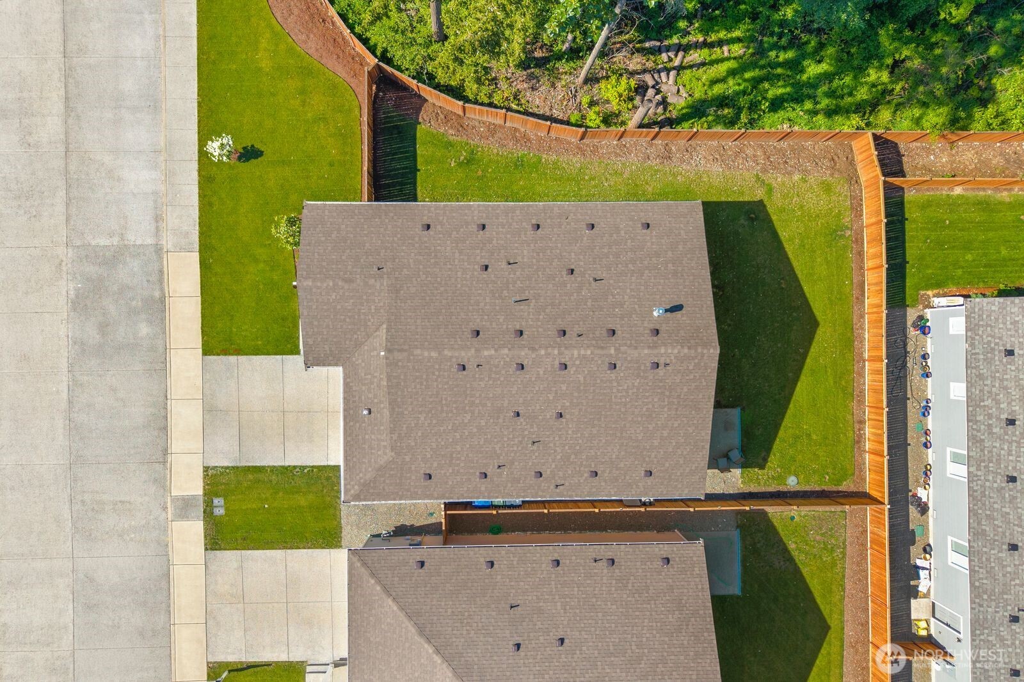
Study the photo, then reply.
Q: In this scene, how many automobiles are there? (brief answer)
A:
0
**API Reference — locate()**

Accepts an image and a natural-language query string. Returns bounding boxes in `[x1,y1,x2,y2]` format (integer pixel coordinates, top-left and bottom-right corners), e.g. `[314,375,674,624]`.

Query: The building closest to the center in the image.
[291,198,721,503]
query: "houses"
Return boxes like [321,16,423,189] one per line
[311,530,718,682]
[291,198,721,503]
[929,295,1024,682]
